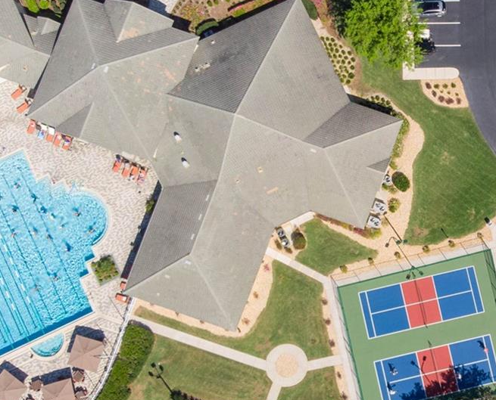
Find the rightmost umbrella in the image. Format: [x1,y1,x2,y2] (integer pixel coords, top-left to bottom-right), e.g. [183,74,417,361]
[67,335,104,372]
